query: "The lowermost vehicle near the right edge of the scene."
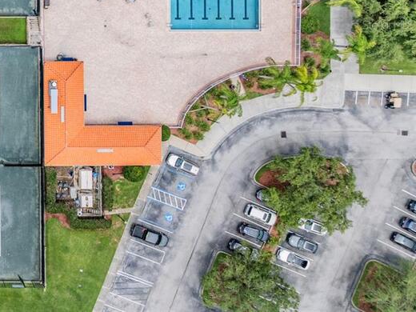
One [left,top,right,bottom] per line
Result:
[385,231,416,254]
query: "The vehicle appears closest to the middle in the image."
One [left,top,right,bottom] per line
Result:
[165,152,200,176]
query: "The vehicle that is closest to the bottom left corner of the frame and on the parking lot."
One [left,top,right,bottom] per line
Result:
[129,224,168,247]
